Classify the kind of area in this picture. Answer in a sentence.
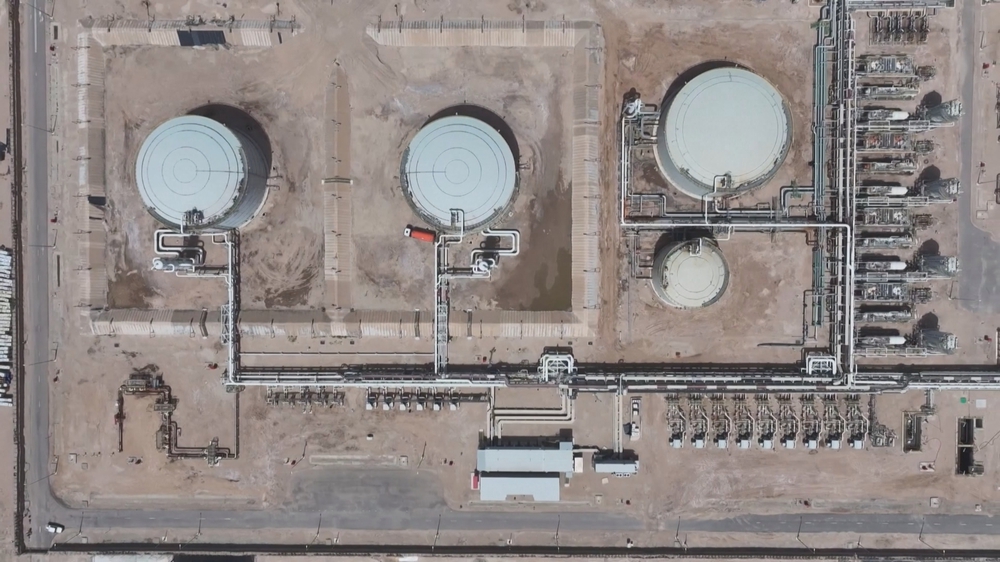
This looks like an industrial area.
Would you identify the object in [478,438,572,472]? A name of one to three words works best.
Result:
building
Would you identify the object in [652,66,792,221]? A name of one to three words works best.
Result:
storage tank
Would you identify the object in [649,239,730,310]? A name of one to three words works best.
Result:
storage tank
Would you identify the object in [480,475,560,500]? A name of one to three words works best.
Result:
building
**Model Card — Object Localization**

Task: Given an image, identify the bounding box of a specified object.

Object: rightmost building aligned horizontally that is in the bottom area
[594,456,636,473]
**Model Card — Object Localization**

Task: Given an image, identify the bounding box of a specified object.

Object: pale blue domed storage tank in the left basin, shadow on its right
[134,114,271,235]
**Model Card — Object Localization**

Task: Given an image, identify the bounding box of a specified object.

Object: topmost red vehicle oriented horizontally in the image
[403,227,436,241]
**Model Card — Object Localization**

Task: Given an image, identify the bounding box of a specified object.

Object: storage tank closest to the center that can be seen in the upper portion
[398,114,521,238]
